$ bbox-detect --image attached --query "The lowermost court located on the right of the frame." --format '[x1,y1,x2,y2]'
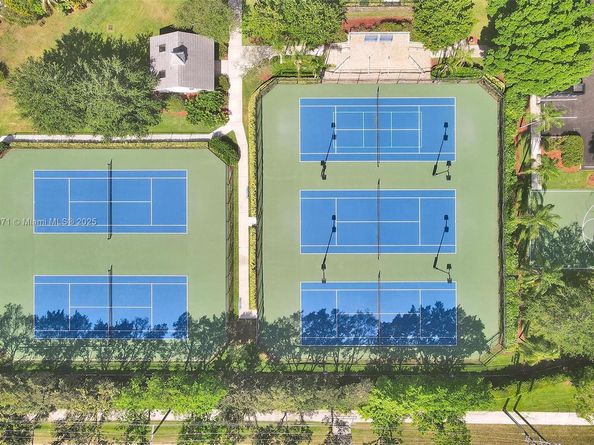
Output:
[301,276,457,354]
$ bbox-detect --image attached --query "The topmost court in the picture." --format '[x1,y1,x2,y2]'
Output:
[300,90,456,167]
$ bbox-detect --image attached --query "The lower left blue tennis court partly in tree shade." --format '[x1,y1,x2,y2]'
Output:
[34,270,187,347]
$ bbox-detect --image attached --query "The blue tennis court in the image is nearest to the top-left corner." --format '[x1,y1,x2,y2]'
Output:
[34,163,187,240]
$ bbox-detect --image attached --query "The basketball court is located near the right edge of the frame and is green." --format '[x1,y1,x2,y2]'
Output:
[531,190,594,270]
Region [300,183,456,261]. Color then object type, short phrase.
blue tennis court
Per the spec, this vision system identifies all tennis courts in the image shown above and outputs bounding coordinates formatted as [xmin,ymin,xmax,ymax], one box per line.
[34,163,187,240]
[34,270,187,347]
[301,276,457,354]
[300,90,456,167]
[300,183,456,261]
